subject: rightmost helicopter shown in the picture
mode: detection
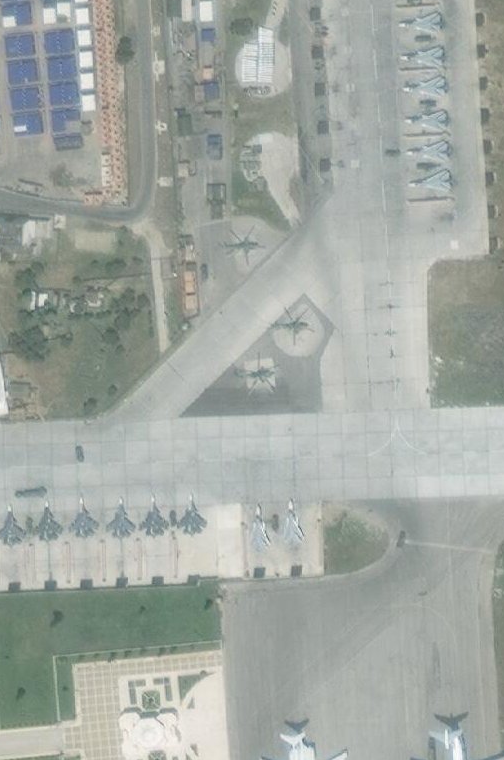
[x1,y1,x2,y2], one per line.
[267,307,313,344]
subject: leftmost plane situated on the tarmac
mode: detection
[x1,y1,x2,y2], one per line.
[0,504,24,546]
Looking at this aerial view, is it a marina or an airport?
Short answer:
airport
